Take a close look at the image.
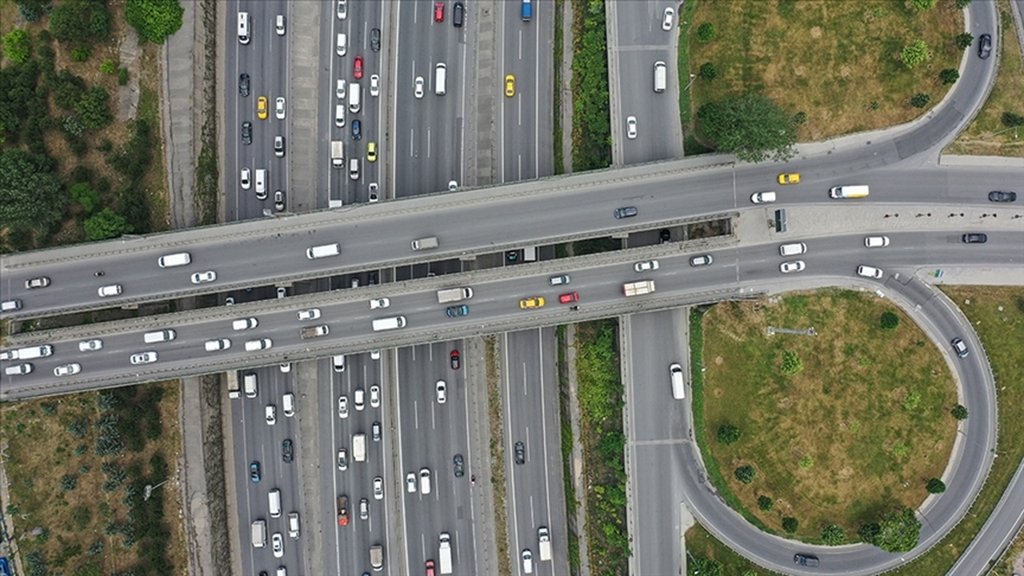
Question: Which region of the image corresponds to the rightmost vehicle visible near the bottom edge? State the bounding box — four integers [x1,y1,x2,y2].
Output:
[793,552,820,566]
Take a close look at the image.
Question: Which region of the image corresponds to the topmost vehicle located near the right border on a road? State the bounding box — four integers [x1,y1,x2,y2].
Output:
[976,34,990,60]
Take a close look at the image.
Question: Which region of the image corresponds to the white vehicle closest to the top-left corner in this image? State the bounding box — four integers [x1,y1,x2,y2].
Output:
[237,10,251,45]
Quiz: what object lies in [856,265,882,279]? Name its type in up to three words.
car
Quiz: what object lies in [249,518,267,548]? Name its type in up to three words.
vehicle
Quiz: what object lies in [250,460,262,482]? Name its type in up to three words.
vehicle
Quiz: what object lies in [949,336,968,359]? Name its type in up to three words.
car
